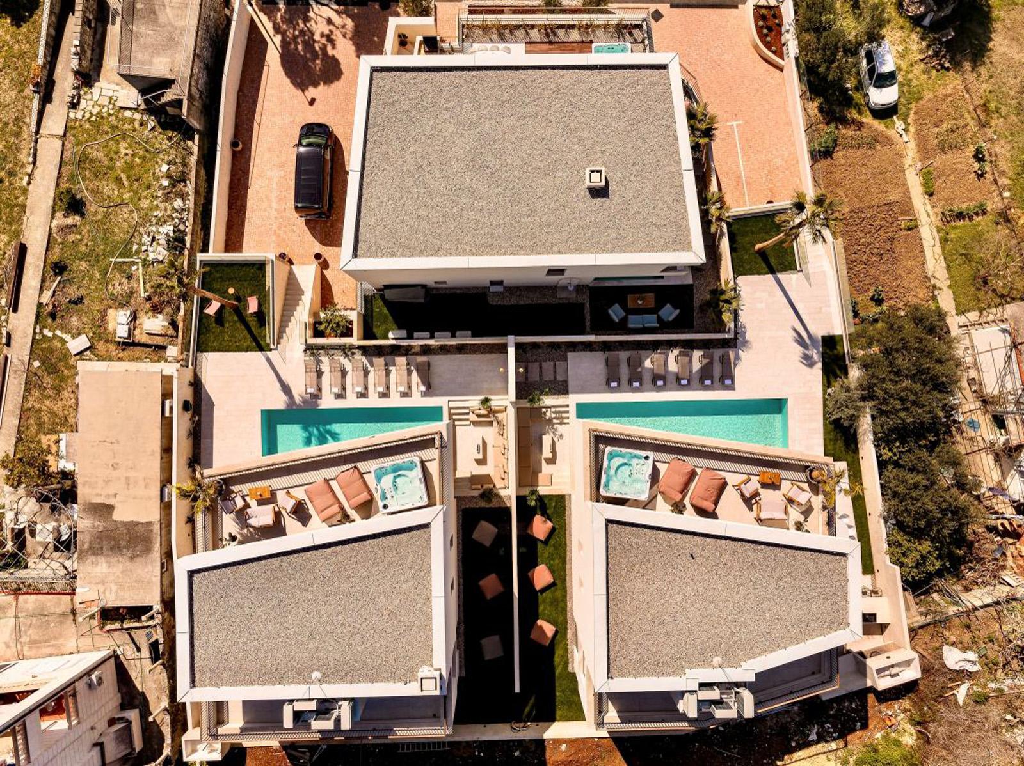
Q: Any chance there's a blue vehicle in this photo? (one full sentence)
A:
No, no blue vehicle is visible in the view.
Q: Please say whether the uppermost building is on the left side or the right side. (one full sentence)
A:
The uppermost building is on the left side of the image.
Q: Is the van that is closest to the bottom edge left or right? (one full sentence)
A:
The van that is closest to the bottom edge appears in the left half of the scene.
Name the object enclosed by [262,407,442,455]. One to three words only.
swimming pool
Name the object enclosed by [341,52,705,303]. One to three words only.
house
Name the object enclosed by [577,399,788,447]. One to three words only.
swimming pool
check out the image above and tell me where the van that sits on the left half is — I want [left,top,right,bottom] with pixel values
[292,125,334,219]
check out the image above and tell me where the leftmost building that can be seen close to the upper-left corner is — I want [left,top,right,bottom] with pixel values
[119,0,225,146]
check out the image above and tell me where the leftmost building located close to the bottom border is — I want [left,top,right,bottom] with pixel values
[0,651,127,766]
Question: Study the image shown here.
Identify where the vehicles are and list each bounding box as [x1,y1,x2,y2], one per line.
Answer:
[856,42,900,118]
[292,125,334,219]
